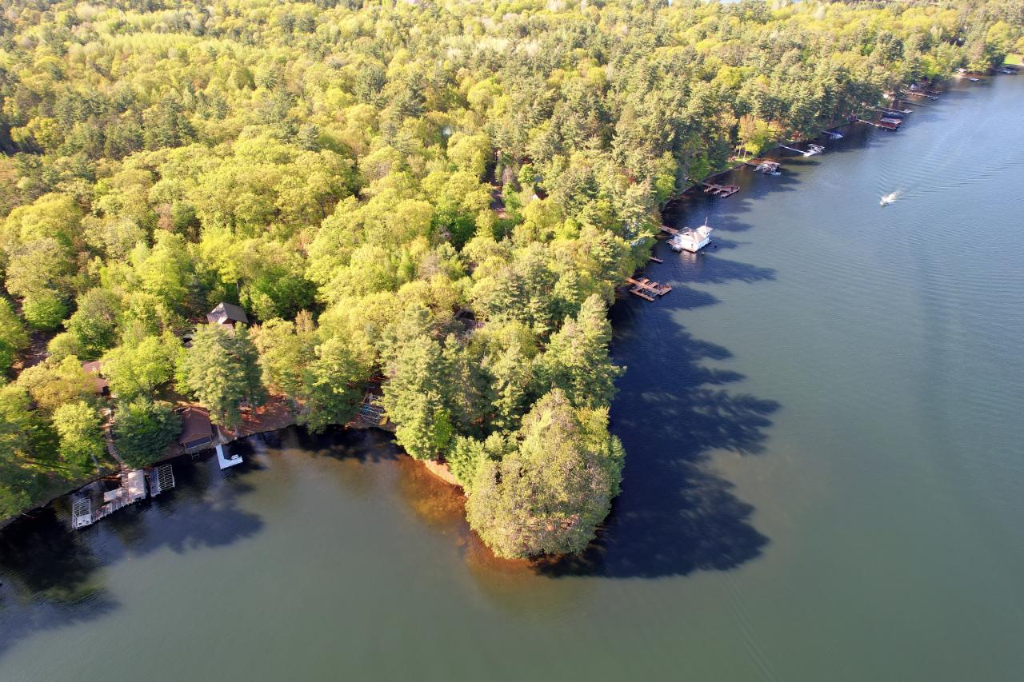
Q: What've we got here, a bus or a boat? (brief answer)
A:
boat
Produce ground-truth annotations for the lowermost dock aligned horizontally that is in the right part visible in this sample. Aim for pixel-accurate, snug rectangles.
[624,276,677,302]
